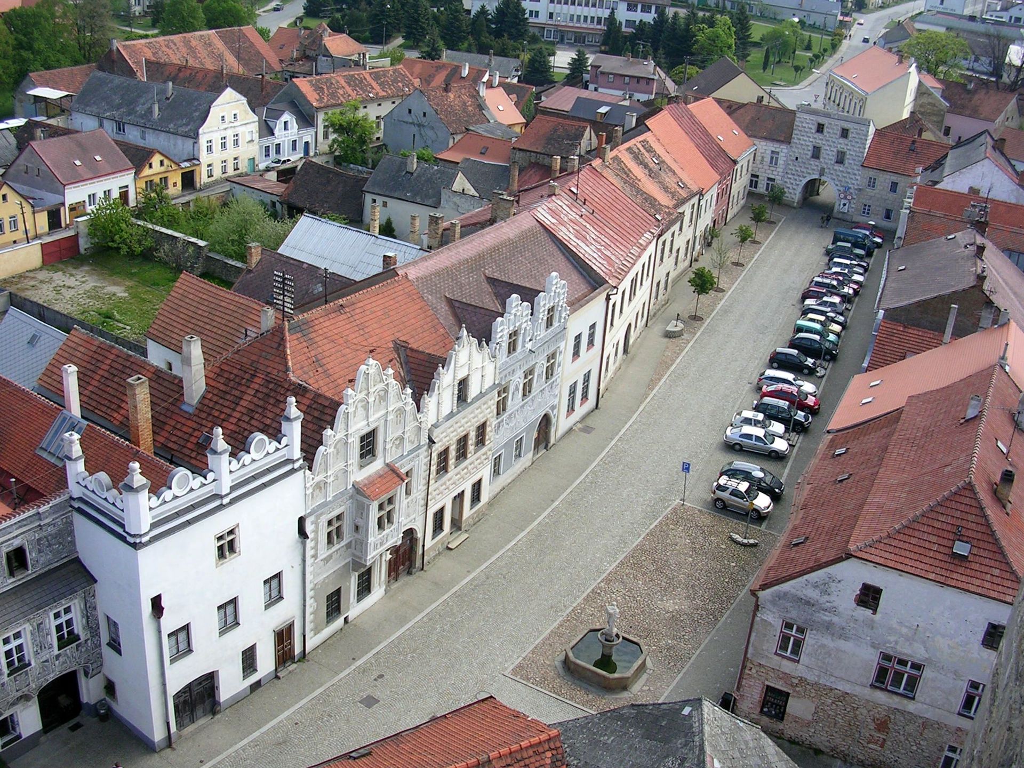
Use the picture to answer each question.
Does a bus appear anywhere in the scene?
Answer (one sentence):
No, no bus is visible in the scene.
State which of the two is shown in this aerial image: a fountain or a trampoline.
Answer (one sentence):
Of the two, only a fountain appears.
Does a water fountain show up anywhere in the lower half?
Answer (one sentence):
Yes, there is a water fountain in the lower half.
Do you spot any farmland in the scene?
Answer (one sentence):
No, the scene doesn't show any farmland.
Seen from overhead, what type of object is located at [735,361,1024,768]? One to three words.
house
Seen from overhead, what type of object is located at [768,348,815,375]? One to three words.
car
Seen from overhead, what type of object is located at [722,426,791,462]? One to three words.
car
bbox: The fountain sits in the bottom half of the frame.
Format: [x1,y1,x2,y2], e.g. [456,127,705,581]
[566,621,648,690]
